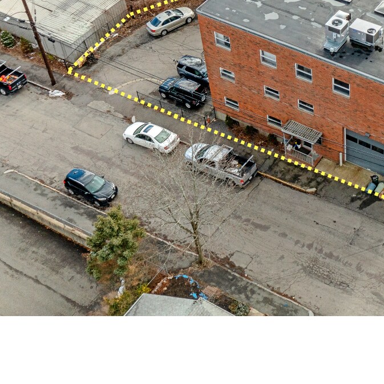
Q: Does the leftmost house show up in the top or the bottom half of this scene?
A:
bottom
